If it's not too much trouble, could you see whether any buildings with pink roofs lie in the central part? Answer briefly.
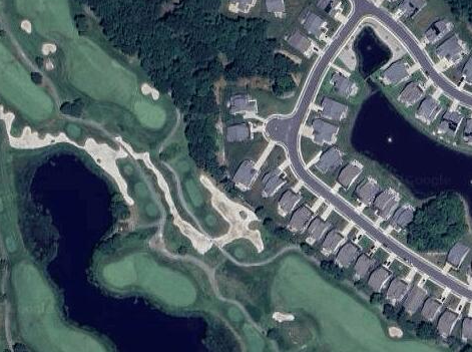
No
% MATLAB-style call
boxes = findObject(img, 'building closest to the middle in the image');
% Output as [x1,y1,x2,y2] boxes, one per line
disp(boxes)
[232,163,259,192]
